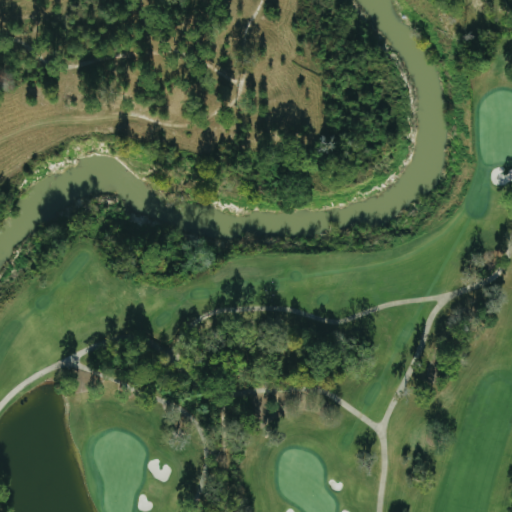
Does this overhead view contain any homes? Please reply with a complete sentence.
No, this view has no home in it.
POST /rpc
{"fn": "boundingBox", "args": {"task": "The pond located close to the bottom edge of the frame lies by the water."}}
[0,384,96,512]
